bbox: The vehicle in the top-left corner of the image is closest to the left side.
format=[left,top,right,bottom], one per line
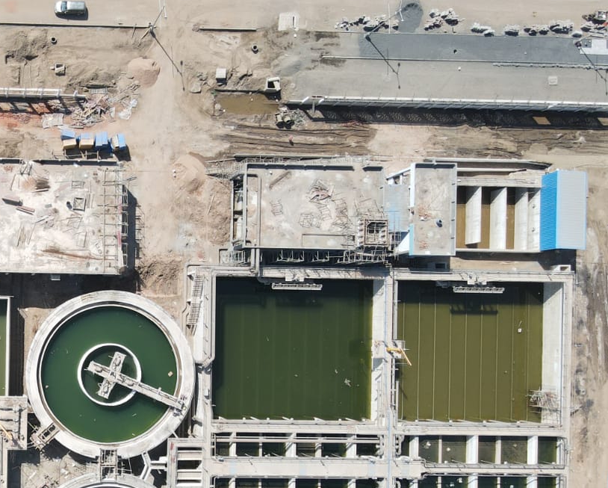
[56,0,89,16]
